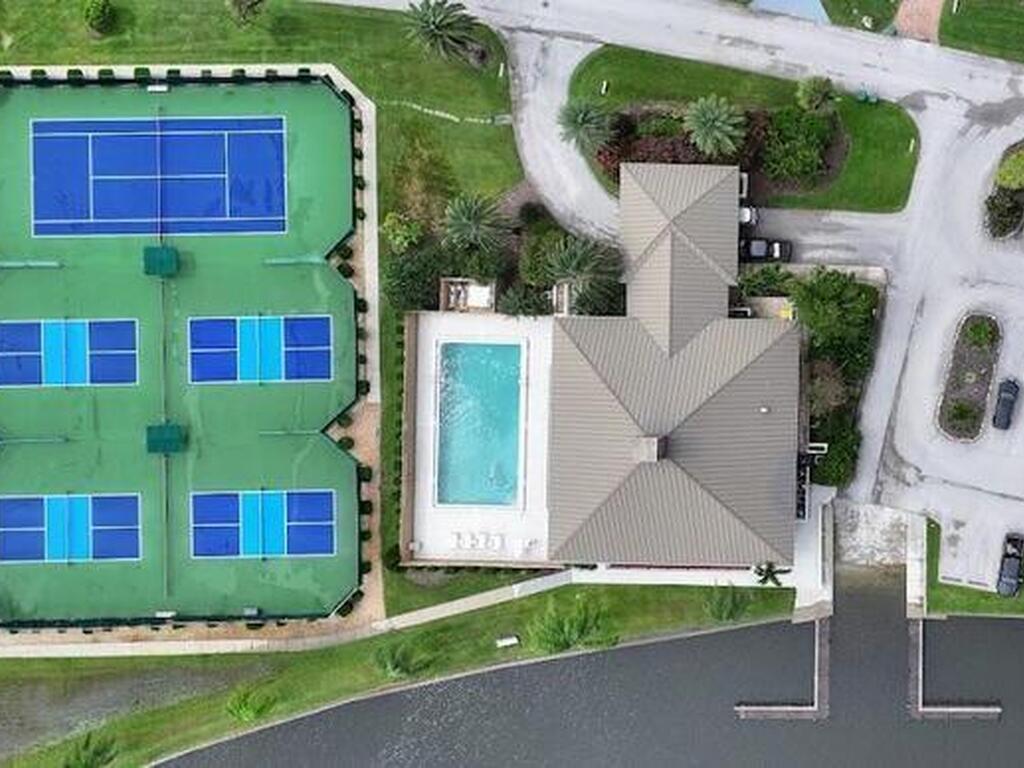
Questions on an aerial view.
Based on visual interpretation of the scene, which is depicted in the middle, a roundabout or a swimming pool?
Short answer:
swimming pool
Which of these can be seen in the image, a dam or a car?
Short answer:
car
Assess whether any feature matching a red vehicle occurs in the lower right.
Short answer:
No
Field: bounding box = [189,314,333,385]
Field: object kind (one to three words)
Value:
sports court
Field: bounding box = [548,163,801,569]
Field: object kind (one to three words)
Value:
building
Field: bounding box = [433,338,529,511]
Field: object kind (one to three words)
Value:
swimming pool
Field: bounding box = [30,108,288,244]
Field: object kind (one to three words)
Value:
tennis court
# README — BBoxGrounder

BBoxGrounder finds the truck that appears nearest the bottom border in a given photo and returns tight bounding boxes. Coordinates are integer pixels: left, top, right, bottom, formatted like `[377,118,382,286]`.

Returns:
[997,532,1024,600]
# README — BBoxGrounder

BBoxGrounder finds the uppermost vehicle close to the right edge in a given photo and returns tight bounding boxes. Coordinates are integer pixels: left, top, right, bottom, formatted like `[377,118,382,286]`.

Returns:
[992,378,1021,432]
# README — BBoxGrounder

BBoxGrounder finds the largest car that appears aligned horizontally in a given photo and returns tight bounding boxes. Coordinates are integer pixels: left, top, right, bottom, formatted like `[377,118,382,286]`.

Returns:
[739,236,791,262]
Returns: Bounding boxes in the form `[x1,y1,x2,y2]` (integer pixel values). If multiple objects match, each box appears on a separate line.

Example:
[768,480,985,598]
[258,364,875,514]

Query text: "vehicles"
[992,378,1021,432]
[739,206,762,223]
[739,236,791,262]
[997,532,1024,600]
